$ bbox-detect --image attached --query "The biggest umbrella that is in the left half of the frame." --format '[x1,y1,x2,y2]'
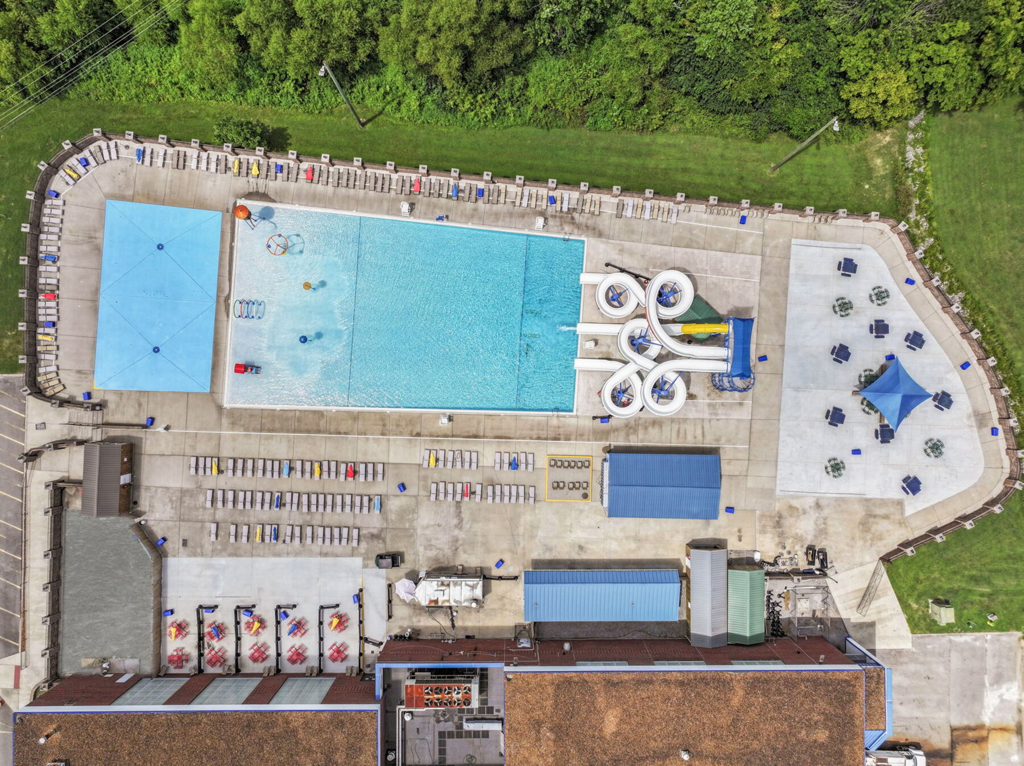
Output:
[394,580,416,604]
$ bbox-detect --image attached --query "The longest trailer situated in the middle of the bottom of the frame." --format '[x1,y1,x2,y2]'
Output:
[415,573,483,608]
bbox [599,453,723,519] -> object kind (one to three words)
building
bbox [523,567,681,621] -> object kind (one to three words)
building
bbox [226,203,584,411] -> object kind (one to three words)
swimming pool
